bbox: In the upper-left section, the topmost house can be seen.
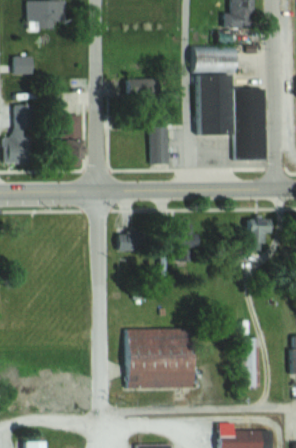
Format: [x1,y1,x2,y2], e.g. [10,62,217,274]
[26,0,66,34]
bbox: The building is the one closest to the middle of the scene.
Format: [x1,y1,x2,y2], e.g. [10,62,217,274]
[117,234,140,252]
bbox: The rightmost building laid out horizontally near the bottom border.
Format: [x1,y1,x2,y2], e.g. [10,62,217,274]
[216,423,274,448]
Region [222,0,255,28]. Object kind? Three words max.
house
